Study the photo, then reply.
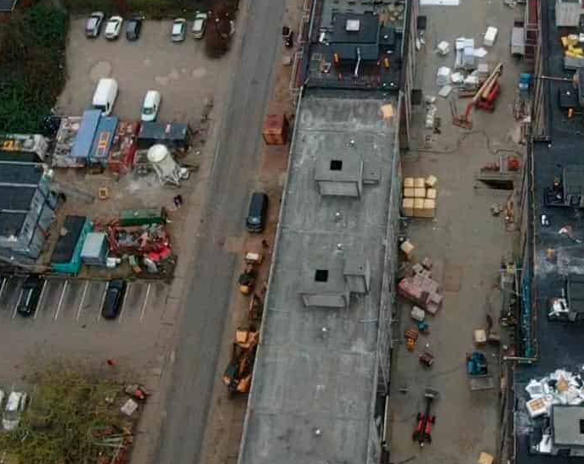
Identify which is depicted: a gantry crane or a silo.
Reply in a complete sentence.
Looking from above, you can make out a silo.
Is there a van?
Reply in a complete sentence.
Yes, there's a van down there.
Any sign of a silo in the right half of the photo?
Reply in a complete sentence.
No, I see no silo in the right half of the photo.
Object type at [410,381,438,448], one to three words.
work vehicle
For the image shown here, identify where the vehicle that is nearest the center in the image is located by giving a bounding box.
[242,188,268,231]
